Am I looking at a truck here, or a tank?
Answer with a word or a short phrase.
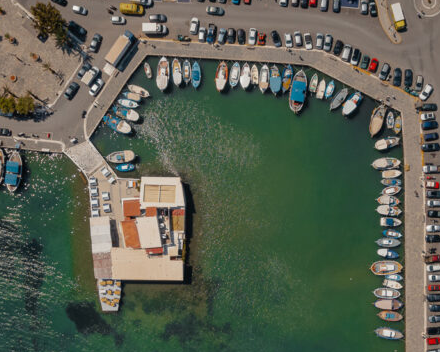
truck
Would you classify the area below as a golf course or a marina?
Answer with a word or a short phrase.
marina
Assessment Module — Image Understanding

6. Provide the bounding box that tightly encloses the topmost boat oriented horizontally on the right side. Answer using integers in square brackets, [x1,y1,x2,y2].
[375,137,404,150]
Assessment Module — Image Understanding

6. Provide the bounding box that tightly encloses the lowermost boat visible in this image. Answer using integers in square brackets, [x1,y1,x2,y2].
[374,326,406,341]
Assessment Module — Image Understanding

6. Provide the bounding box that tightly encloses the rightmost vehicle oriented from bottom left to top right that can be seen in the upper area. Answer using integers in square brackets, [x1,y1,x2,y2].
[419,84,434,101]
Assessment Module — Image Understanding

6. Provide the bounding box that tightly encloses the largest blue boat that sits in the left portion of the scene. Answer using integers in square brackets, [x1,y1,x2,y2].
[5,148,23,193]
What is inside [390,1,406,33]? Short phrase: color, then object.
white vehicle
